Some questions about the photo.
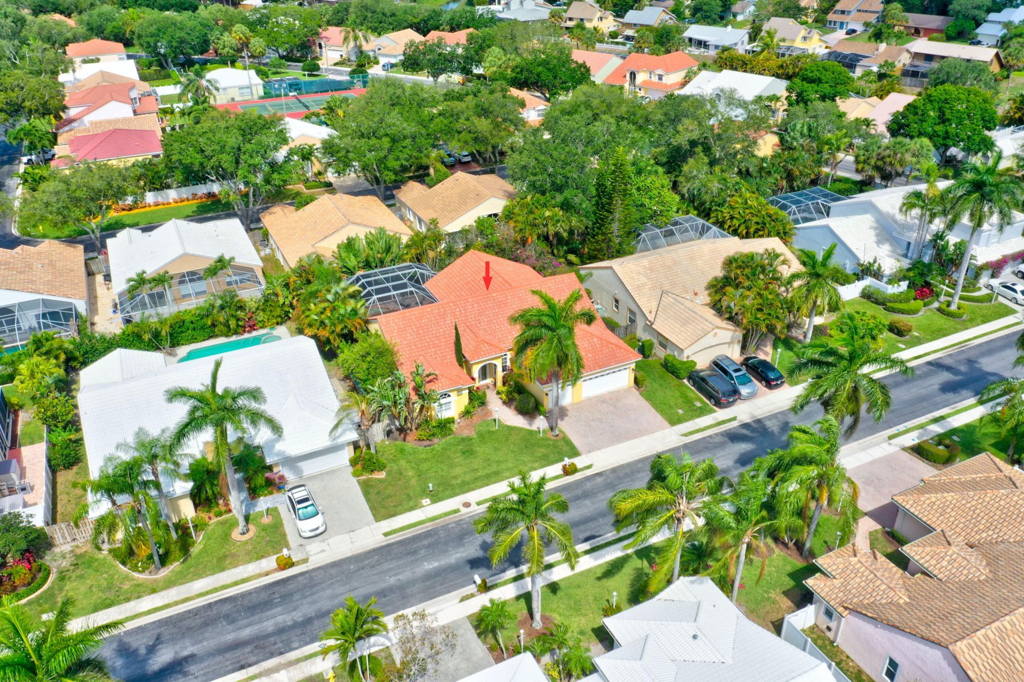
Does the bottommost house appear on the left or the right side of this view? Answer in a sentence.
You can find the bottommost house on the right side of the picture.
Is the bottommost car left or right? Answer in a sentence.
It is on the left.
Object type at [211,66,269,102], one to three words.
house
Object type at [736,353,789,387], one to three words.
car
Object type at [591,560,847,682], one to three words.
house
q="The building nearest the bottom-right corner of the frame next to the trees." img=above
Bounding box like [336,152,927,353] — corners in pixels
[803,430,1024,682]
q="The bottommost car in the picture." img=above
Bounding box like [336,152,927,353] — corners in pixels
[279,477,324,533]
